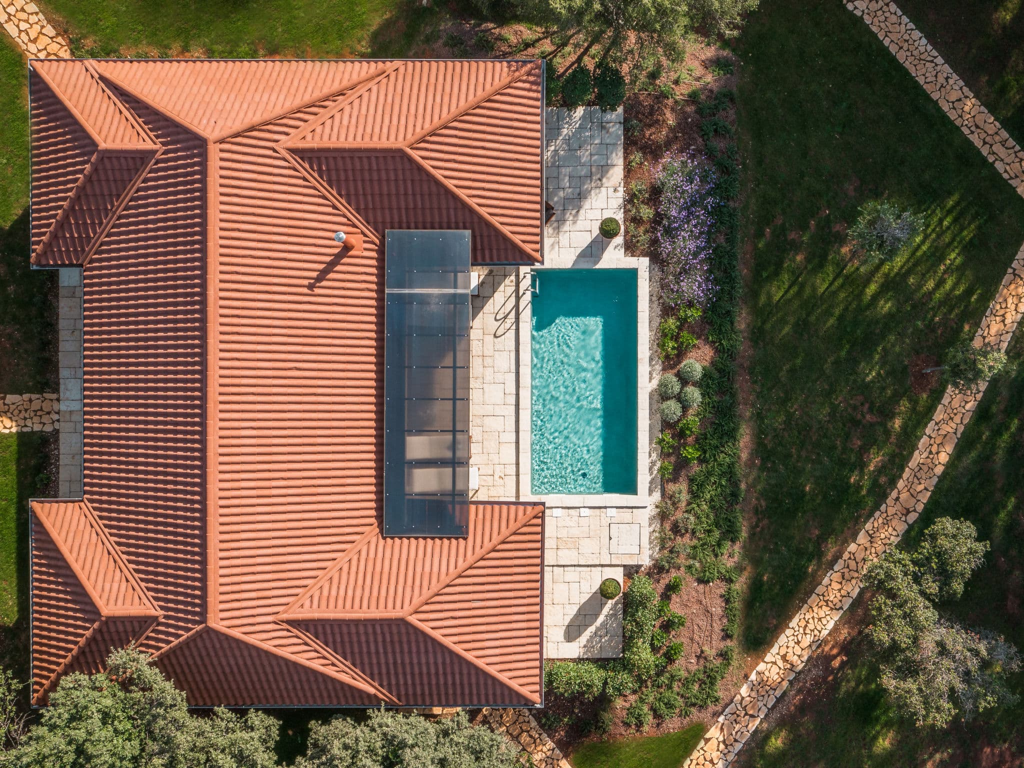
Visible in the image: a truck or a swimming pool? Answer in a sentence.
This aerial view contains a swimming pool.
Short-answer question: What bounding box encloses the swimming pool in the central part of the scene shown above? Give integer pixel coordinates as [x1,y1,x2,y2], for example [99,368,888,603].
[520,258,649,506]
